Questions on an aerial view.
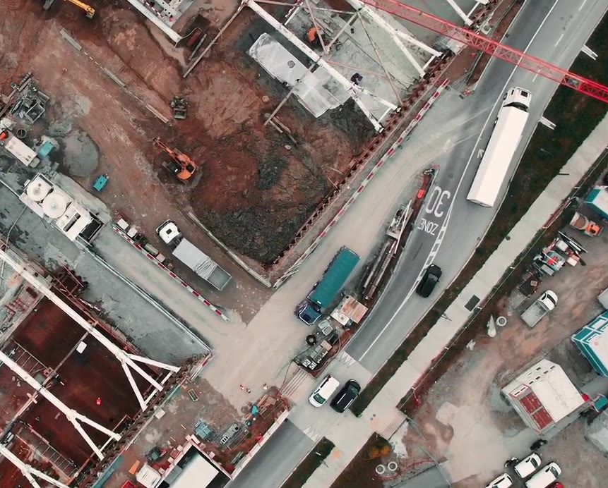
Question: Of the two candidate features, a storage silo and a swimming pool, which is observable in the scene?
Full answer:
There is a storage silo in the scene.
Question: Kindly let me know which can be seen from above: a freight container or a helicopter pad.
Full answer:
It is a freight container that can be seen here.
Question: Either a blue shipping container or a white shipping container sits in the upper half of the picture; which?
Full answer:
You can see a white shipping container in the upper half of the picture.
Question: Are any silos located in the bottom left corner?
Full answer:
No, no silo is visible in the bottom left corner.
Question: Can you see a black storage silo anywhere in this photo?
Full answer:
No, there's no black storage silo here.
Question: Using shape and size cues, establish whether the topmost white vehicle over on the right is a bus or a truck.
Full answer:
Looking closely, the topmost white vehicle over on the right is a truck.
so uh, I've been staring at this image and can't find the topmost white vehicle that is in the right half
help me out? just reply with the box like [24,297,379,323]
[463,89,532,210]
